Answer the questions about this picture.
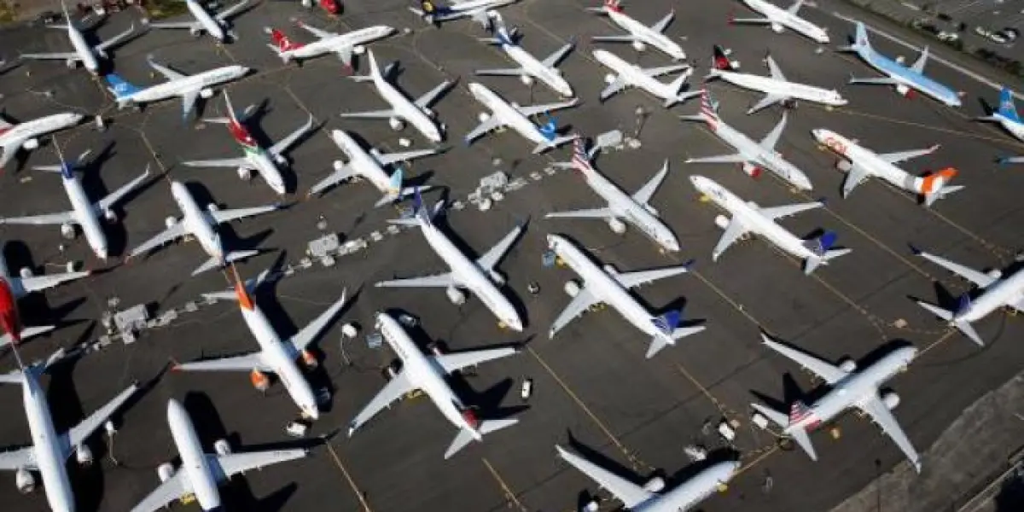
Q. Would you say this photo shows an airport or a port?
airport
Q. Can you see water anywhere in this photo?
No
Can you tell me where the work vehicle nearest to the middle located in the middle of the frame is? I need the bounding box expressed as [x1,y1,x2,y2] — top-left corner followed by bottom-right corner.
[526,283,540,296]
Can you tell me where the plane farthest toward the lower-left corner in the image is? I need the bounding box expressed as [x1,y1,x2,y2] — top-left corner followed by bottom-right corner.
[0,342,145,512]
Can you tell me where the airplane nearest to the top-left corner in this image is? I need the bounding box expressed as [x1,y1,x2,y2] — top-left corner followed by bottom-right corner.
[19,3,137,77]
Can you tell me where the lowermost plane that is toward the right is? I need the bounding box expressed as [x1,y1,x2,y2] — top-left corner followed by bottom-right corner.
[560,436,739,512]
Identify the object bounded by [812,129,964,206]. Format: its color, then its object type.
white airplane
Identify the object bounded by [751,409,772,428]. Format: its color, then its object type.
white vehicle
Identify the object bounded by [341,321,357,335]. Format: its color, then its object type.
white work vehicle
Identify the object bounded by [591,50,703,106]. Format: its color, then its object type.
white airplane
